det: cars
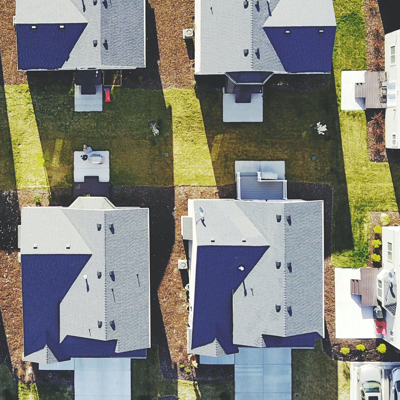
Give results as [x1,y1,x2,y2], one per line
[387,365,400,400]
[356,362,383,400]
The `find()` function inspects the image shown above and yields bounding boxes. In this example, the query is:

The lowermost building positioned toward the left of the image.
[17,194,151,364]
